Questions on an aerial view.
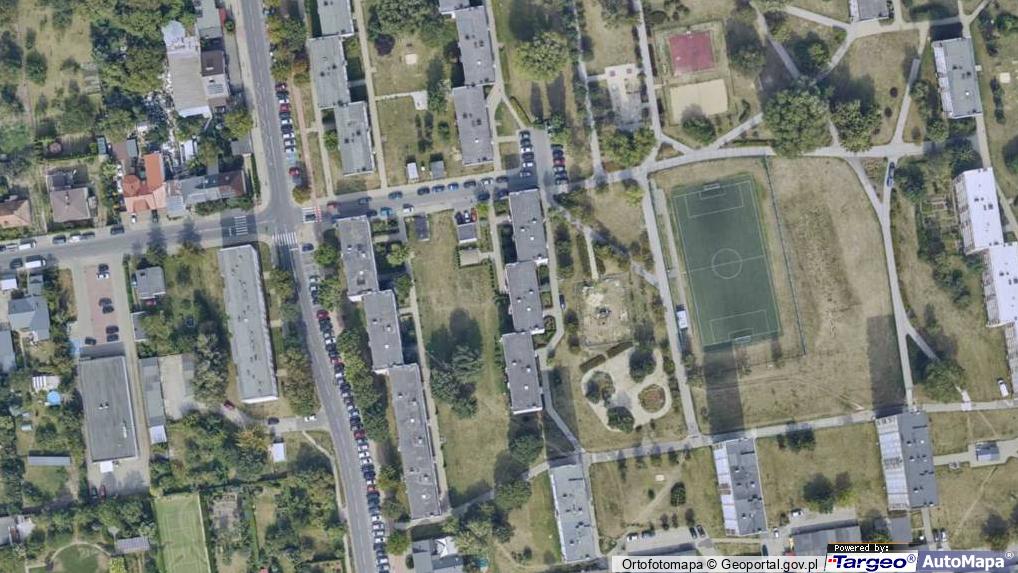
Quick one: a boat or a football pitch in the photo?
football pitch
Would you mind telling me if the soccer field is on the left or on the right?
right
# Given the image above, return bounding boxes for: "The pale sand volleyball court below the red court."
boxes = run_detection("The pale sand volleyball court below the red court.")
[671,80,728,118]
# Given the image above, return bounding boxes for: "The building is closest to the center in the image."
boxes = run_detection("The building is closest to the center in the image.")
[505,261,545,333]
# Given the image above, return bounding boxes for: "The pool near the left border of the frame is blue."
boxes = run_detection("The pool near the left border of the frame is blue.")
[47,391,61,405]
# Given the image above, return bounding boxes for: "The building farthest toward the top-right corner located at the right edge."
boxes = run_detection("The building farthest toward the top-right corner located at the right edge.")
[933,38,982,124]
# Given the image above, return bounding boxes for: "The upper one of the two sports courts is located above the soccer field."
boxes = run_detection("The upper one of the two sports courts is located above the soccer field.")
[669,31,716,74]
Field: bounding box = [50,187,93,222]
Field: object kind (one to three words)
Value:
house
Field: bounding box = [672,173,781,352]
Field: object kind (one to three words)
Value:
soccer field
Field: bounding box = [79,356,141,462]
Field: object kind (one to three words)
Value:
building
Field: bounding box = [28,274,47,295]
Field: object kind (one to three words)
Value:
shed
